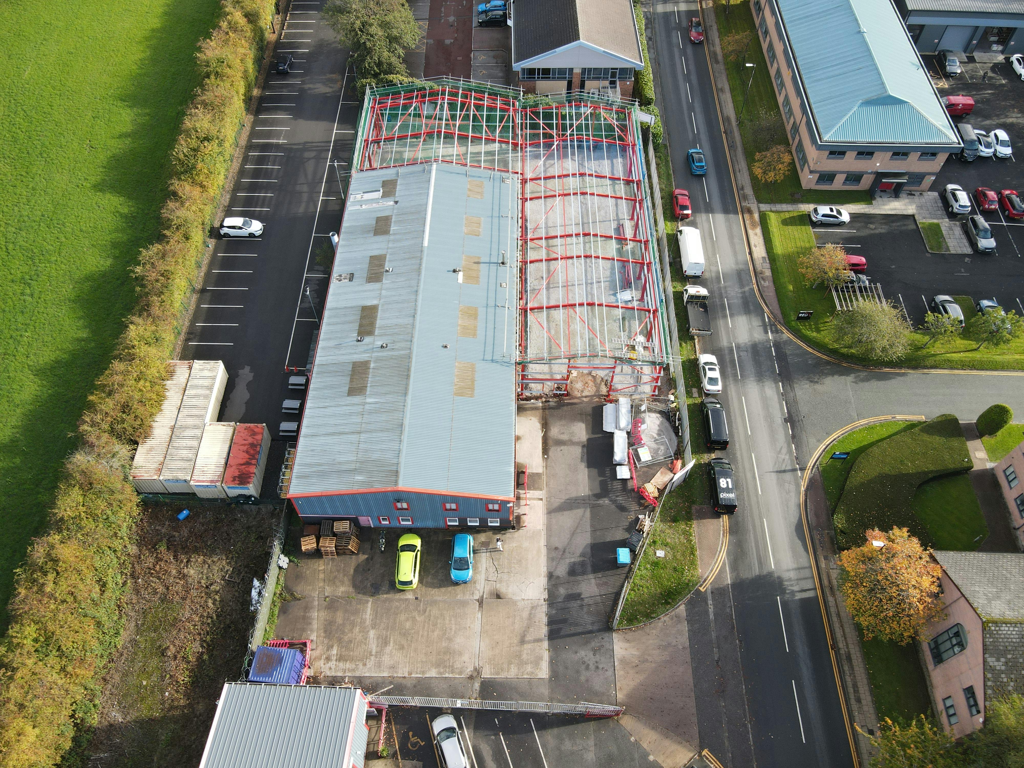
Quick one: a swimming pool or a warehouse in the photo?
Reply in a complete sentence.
Looking from above, you can make out a warehouse.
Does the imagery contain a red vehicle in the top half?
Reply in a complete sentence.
Yes, the scene does show a red vehicle in the top half.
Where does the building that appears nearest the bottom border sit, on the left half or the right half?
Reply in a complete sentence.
The building that appears nearest the bottom border appears in the left half of the scene.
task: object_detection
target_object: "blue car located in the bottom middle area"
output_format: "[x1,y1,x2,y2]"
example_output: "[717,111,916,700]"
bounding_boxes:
[447,535,475,586]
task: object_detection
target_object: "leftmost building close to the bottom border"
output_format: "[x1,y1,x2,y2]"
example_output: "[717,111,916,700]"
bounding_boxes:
[206,679,376,768]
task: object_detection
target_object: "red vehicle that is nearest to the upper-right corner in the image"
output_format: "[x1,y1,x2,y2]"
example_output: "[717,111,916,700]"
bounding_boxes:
[942,95,981,117]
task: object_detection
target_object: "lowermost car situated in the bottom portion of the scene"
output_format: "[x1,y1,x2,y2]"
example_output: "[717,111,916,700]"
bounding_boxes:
[437,715,468,768]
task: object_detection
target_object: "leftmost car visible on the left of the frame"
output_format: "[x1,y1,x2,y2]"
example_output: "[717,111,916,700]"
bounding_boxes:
[219,217,263,239]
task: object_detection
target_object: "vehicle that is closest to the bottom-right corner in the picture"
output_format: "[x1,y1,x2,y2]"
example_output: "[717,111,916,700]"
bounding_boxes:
[706,463,738,518]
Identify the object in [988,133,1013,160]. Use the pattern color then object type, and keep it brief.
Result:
white car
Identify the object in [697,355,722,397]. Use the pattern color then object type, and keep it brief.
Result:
white car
